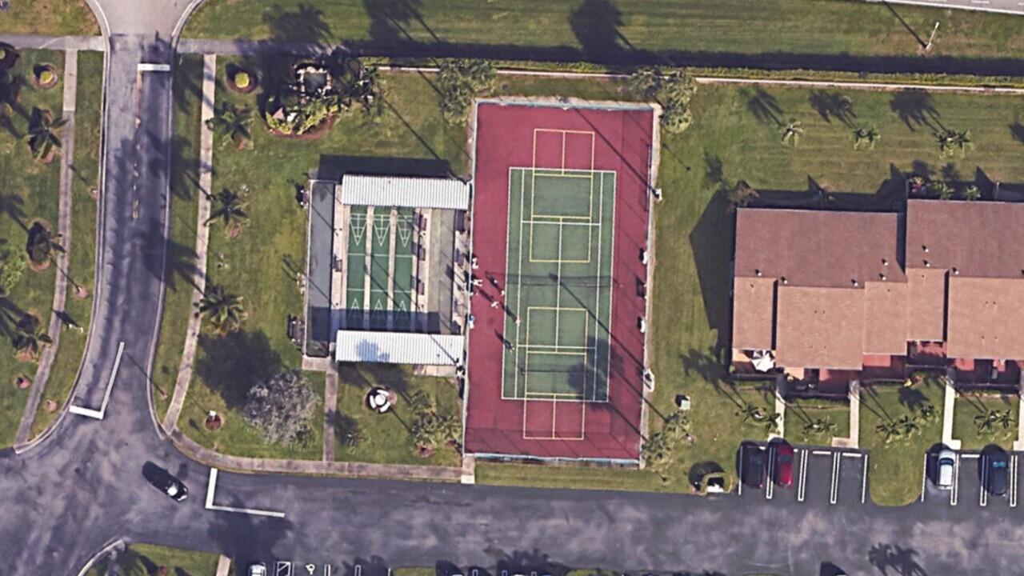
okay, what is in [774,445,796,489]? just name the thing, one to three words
car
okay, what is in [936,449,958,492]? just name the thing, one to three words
car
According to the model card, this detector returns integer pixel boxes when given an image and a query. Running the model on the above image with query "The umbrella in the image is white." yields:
[749,351,775,375]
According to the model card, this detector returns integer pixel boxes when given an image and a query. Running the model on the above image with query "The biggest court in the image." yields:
[465,105,652,462]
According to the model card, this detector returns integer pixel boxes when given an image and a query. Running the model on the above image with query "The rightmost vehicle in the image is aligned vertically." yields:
[984,449,1007,497]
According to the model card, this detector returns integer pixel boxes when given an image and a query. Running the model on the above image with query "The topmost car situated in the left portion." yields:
[143,462,187,501]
